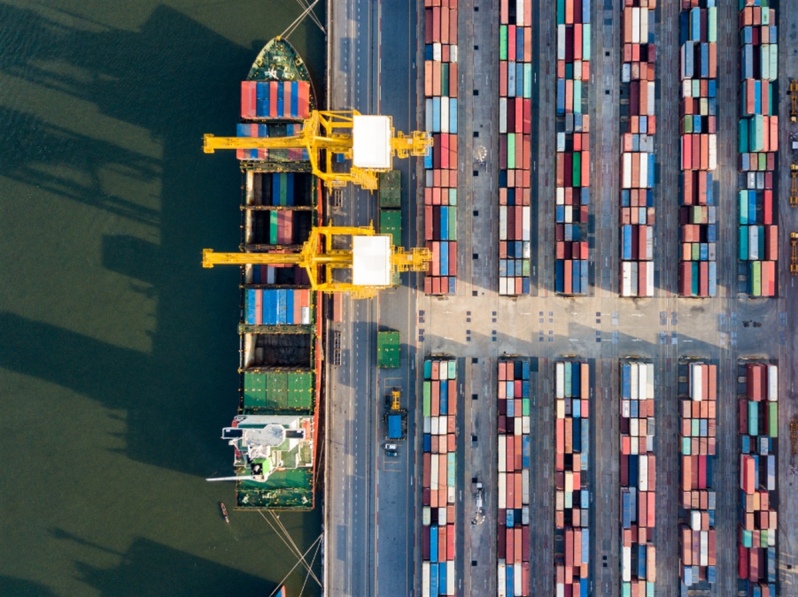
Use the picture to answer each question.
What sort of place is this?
port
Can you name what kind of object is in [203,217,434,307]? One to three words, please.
container crane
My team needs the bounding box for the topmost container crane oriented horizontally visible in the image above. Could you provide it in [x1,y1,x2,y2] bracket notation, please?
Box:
[203,108,434,198]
